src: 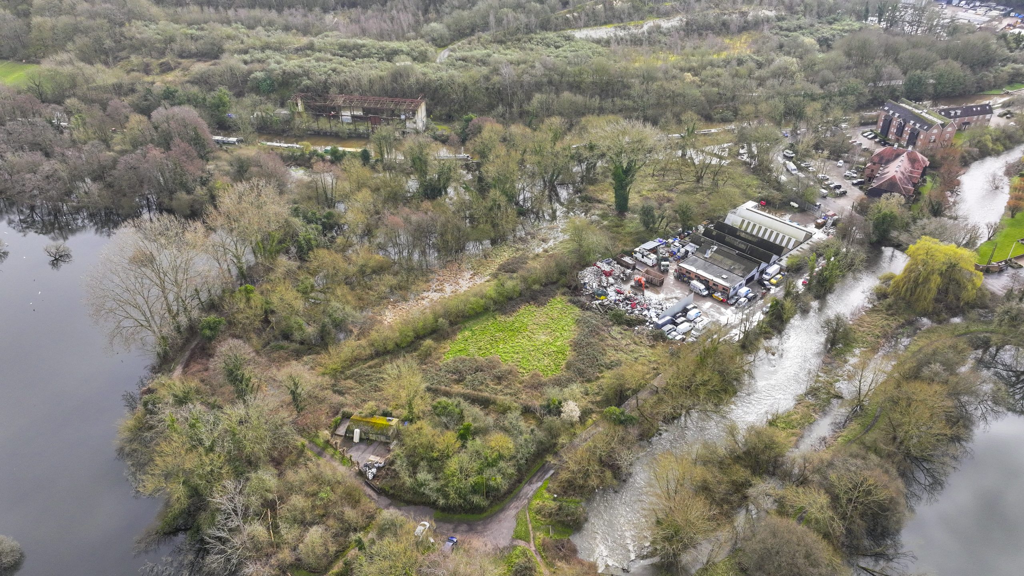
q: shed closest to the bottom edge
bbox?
[345,410,401,443]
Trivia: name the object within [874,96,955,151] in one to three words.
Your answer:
building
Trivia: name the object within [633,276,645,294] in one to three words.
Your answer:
vehicle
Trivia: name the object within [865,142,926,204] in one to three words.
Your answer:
barn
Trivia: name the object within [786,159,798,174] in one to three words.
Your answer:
vehicle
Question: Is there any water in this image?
Yes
